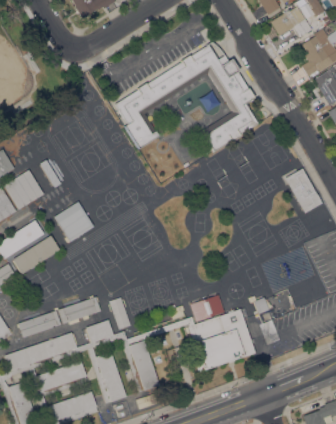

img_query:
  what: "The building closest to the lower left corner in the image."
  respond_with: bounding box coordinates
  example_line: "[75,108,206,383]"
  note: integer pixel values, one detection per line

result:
[9,382,32,424]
